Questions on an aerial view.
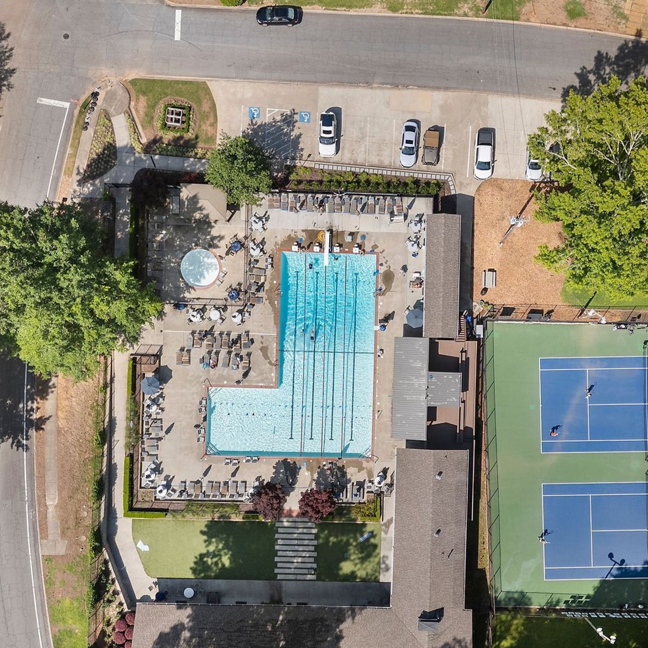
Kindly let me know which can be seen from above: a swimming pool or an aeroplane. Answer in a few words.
swimming pool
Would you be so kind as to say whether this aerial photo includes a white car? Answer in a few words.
Yes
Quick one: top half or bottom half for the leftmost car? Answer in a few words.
top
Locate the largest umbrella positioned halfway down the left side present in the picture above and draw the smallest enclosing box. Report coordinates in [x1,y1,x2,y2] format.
[141,375,161,394]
